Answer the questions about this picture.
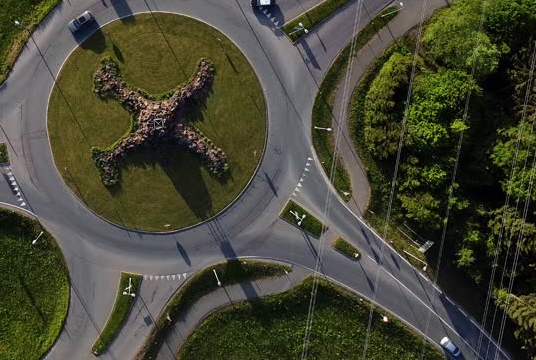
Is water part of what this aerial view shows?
No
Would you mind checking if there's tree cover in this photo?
Yes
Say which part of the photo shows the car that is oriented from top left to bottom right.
bottom right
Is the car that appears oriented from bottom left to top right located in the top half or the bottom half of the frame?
top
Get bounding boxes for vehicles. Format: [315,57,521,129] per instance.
[438,334,462,360]
[67,9,96,34]
[251,0,276,9]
